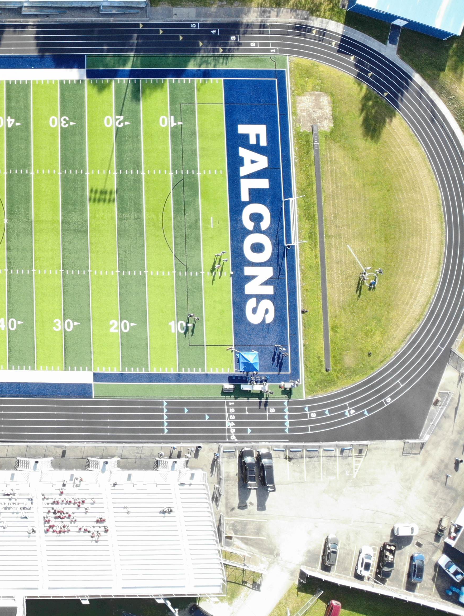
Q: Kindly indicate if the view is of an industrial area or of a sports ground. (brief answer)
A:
sports ground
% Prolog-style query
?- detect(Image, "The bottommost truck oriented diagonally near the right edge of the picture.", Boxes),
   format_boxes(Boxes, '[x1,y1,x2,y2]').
[435,552,464,588]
